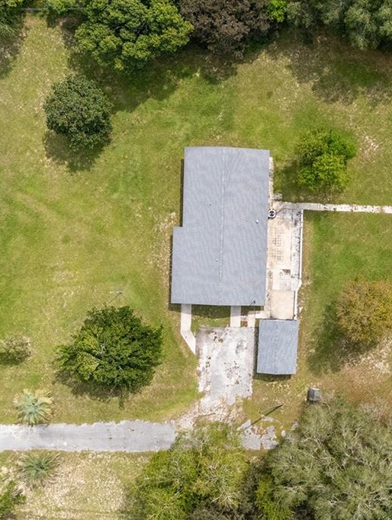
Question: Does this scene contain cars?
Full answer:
No, there appears to be no car in this shot.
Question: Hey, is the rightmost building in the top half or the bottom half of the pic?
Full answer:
The rightmost building sits in the bottom half of the picture.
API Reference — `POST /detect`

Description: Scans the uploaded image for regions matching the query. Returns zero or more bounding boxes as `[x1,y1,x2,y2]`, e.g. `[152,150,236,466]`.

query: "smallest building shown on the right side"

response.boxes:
[256,320,298,374]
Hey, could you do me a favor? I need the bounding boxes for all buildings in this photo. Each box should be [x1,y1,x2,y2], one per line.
[256,320,298,374]
[169,147,269,307]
